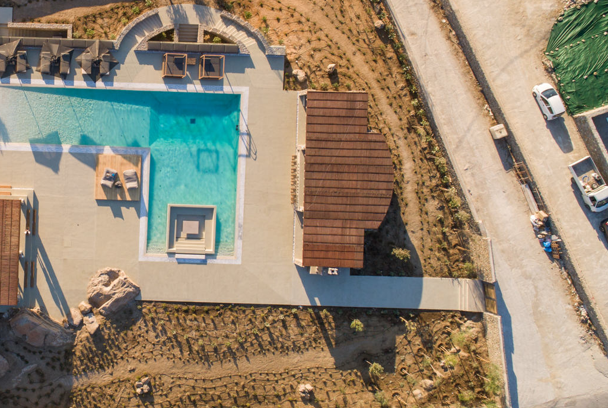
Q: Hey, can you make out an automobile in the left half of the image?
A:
No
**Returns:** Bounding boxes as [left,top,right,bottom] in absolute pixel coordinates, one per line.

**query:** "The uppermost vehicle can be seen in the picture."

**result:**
[531,78,570,123]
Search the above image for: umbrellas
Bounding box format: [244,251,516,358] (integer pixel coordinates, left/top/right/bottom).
[76,41,119,82]
[36,42,74,79]
[0,40,31,79]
